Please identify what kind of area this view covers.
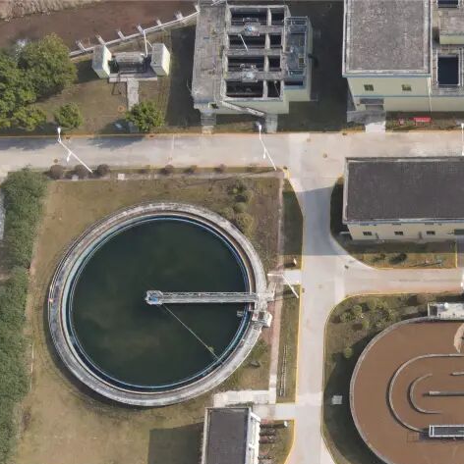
industrial area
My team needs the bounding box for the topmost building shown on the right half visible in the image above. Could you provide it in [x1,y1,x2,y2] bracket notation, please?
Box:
[343,0,435,123]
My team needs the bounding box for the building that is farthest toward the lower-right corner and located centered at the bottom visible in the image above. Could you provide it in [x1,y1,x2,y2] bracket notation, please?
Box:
[206,408,259,464]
